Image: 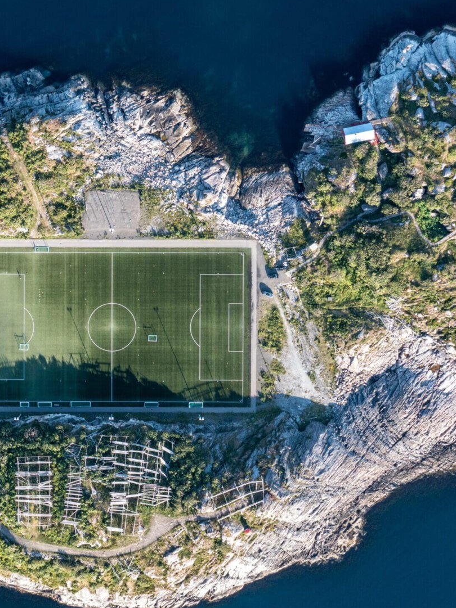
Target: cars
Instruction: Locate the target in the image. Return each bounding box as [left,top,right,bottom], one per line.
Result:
[268,273,279,279]
[262,289,274,299]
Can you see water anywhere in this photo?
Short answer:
Yes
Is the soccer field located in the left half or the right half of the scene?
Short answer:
left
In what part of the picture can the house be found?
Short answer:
top right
